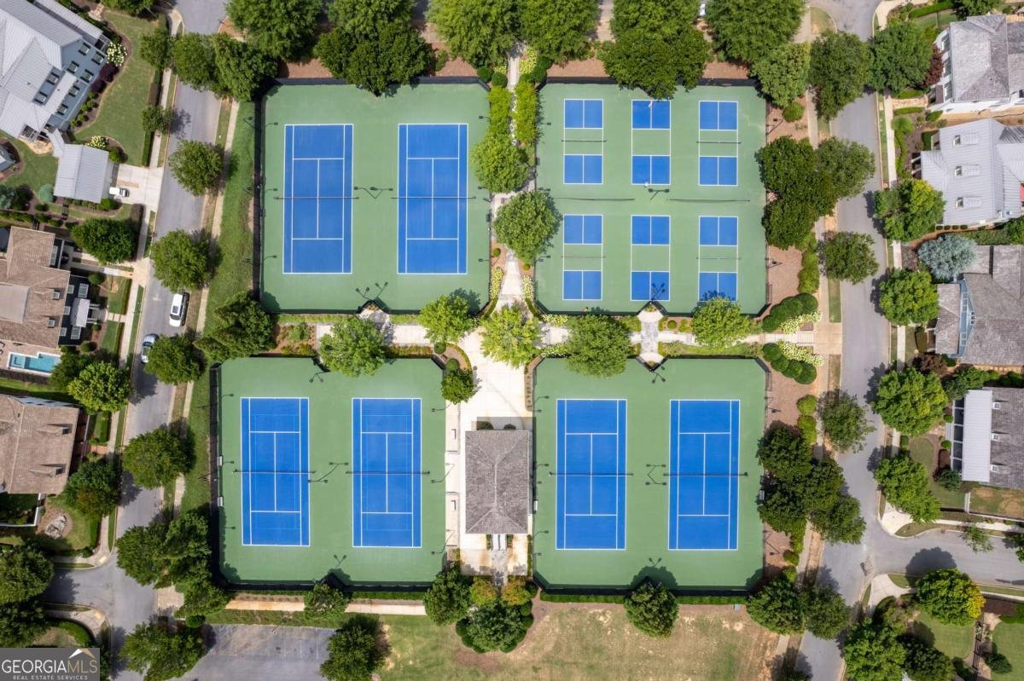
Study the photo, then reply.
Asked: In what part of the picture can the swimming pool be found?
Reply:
left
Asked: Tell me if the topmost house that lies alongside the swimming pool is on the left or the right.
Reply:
left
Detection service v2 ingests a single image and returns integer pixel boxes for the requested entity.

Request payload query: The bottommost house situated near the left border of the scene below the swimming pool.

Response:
[0,390,90,495]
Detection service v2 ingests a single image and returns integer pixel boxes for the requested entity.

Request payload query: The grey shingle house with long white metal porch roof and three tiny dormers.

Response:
[942,387,1024,490]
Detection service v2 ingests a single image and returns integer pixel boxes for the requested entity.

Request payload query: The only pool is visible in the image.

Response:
[7,352,56,376]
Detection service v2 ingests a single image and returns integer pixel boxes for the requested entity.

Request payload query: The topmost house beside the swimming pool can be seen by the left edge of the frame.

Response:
[0,224,101,348]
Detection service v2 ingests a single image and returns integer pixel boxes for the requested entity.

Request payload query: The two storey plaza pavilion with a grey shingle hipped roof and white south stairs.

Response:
[465,429,529,551]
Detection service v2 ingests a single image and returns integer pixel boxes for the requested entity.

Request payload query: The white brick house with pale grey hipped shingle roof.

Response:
[925,14,1024,112]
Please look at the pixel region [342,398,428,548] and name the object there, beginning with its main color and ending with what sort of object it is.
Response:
blue tennis court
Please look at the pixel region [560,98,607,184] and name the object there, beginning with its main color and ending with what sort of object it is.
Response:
blue sports court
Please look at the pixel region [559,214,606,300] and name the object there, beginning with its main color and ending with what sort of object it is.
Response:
blue sports court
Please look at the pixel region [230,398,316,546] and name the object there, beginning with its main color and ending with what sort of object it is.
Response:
blue tennis court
